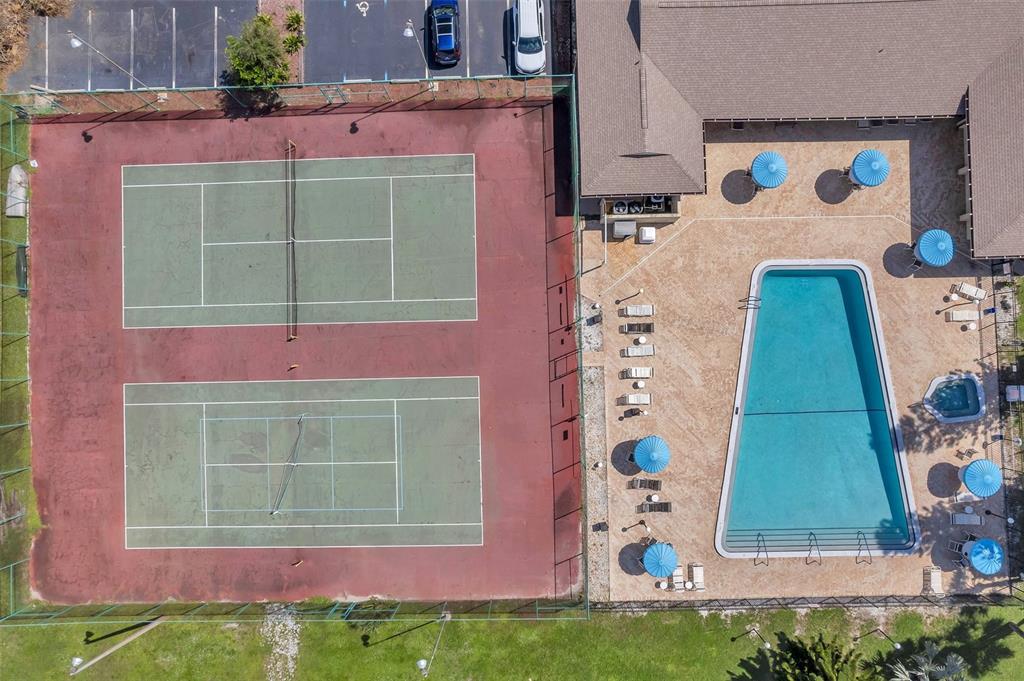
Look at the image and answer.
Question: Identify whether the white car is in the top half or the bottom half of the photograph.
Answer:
top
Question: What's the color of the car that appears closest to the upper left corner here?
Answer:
blue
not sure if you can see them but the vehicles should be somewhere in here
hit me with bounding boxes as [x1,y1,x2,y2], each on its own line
[512,0,549,78]
[428,0,463,65]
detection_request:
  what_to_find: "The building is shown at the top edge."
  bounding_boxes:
[577,0,1024,260]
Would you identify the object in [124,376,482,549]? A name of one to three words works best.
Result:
tennis court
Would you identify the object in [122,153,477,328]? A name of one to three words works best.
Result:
tennis court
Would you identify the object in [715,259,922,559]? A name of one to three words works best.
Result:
swimming pool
